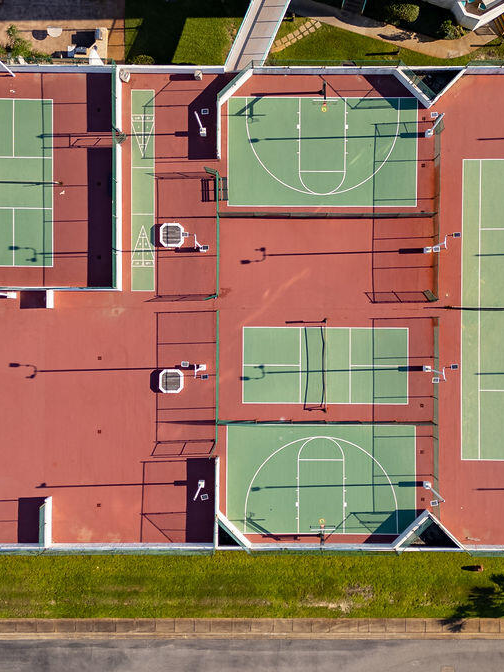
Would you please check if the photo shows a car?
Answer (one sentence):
No, the scene contains no car.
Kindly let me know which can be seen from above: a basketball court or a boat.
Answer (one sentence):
The one in the frame is a basketball court.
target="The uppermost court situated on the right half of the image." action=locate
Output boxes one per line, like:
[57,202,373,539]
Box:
[227,96,418,207]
